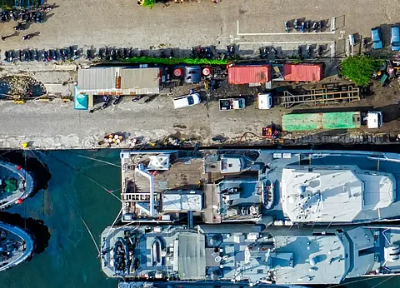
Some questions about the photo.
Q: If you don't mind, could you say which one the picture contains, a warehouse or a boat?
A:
boat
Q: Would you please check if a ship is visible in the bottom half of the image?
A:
Yes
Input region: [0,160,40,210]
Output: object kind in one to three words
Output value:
boat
